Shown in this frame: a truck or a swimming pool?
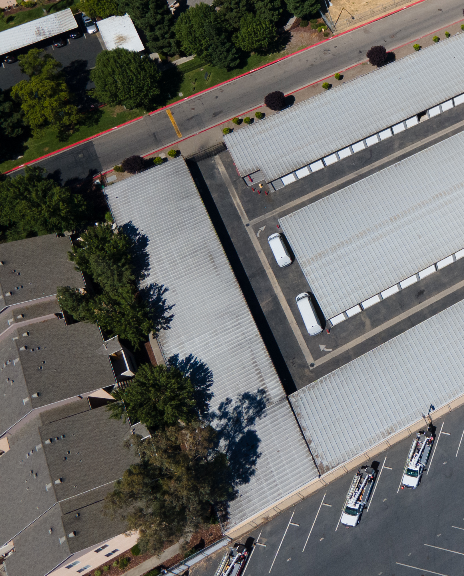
truck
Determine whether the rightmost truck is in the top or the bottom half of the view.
bottom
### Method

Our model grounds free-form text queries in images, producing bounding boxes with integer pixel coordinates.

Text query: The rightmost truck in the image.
[400,428,439,498]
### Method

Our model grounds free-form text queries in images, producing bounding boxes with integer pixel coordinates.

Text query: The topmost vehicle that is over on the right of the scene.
[267,232,296,275]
